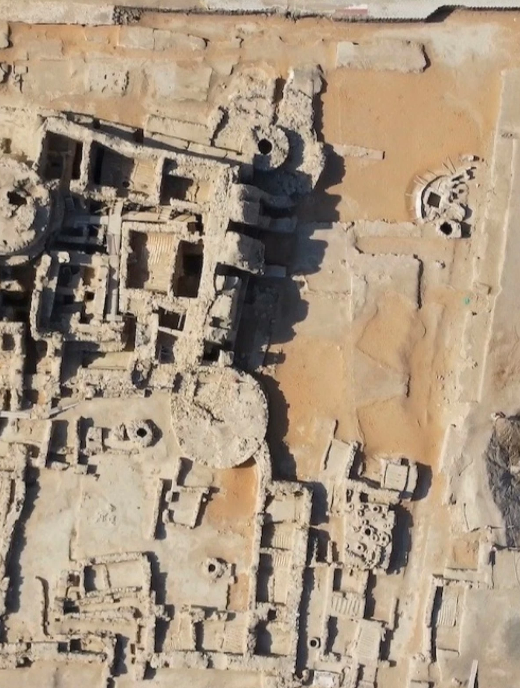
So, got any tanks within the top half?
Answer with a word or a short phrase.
No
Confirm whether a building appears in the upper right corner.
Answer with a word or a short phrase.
No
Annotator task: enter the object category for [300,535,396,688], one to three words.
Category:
house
